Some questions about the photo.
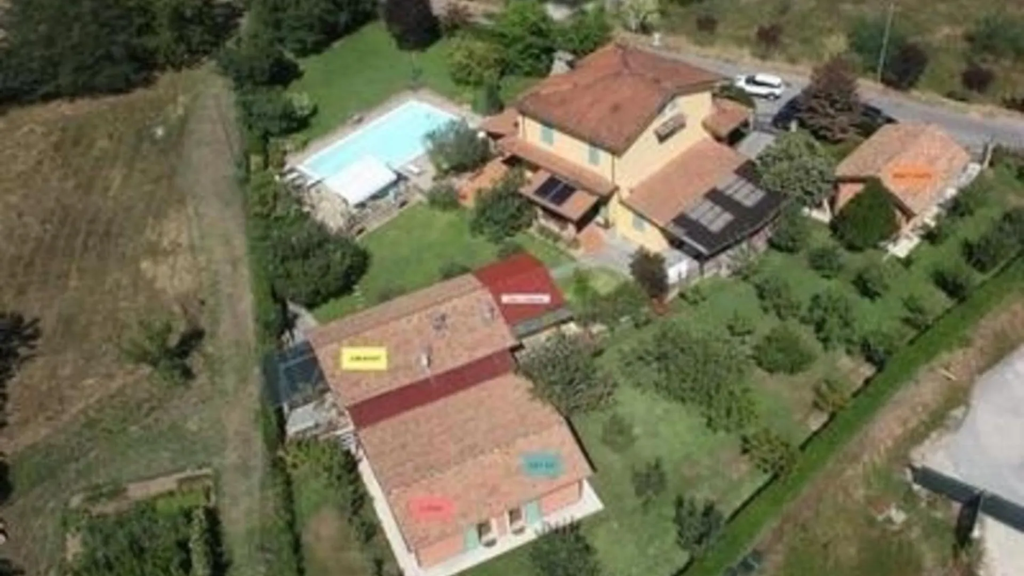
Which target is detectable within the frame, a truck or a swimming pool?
swimming pool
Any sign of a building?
Yes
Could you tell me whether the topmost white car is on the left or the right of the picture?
right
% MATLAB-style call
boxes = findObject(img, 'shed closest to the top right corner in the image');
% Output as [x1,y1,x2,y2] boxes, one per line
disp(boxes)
[835,122,969,235]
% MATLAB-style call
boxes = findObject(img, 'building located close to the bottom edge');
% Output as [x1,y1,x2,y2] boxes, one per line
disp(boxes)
[353,369,595,574]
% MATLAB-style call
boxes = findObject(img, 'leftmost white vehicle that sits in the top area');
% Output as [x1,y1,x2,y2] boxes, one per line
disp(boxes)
[740,73,786,98]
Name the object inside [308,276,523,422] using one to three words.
building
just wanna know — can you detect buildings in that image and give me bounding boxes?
[353,369,595,574]
[479,48,751,256]
[835,122,969,235]
[308,276,523,422]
